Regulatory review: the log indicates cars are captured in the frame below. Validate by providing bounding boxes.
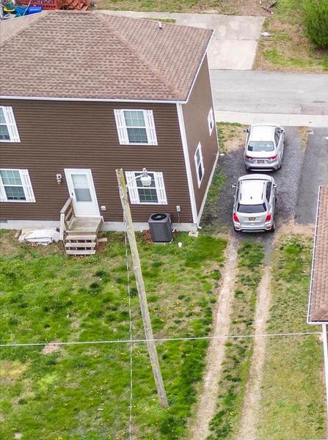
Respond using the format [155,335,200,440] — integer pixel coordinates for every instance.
[243,118,291,165]
[233,168,283,224]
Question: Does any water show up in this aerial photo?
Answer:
No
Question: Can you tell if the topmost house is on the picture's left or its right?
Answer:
left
